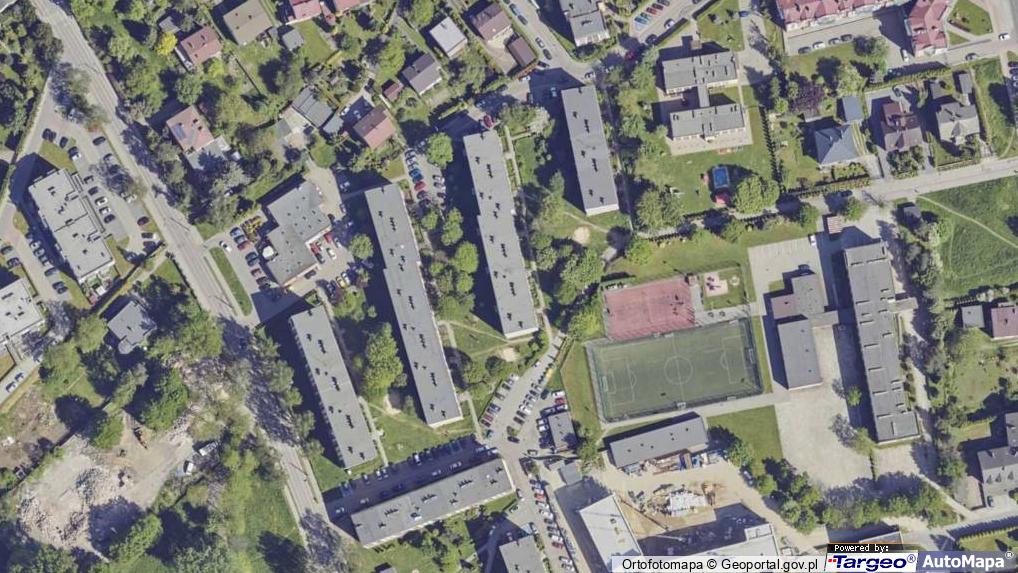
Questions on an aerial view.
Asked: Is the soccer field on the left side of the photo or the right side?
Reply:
right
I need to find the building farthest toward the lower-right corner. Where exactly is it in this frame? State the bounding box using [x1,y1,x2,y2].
[977,447,1018,495]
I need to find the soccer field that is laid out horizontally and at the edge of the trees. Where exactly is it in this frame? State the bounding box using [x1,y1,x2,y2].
[593,314,763,422]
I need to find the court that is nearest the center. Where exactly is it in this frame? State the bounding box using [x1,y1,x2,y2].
[603,276,695,340]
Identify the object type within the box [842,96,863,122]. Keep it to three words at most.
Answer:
building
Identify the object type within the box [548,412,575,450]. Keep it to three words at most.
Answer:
building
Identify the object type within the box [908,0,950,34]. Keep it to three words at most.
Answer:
house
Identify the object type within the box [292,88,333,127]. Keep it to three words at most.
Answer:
shed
